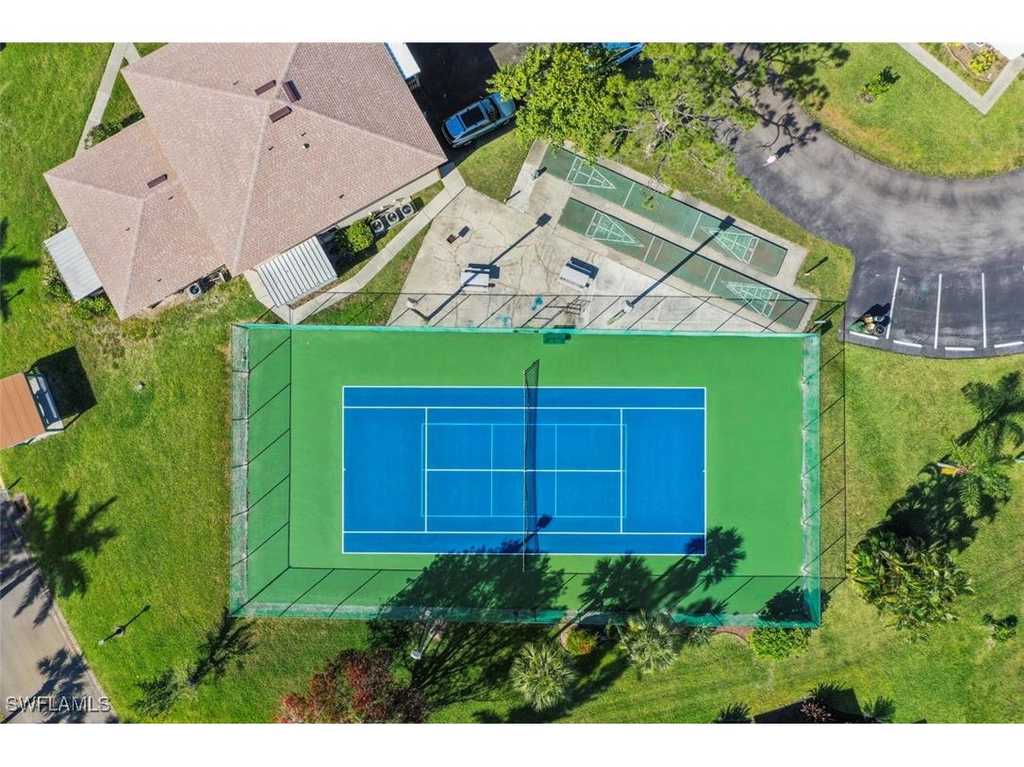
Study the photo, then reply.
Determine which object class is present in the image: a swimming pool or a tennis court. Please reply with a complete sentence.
The image shows a tennis court.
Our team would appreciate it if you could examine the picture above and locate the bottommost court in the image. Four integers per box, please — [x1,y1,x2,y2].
[230,329,804,614]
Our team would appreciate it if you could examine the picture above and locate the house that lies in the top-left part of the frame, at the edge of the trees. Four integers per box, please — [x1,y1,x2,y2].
[43,0,447,319]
